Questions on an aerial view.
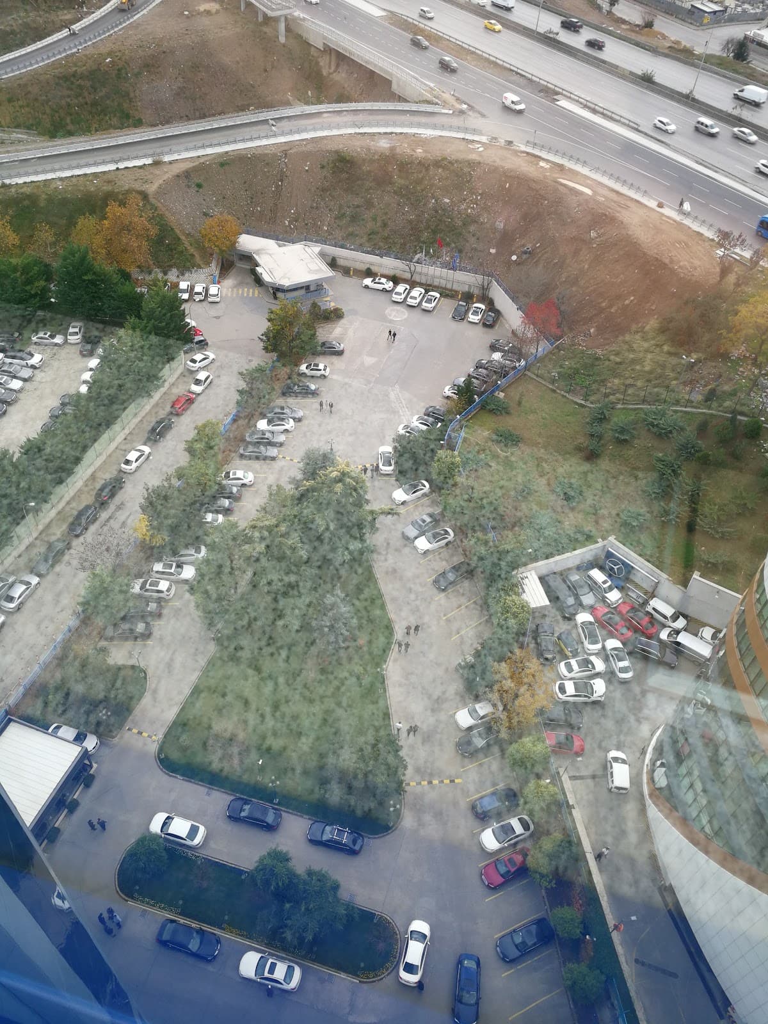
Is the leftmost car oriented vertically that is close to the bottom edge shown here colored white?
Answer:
Yes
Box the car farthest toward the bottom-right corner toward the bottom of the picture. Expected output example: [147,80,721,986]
[496,916,557,966]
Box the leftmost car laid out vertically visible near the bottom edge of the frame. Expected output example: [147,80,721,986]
[399,918,431,990]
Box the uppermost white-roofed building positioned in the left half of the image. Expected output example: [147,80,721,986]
[253,228,336,306]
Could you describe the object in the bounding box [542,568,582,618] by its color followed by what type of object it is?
gray van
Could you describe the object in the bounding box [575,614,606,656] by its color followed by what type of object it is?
white car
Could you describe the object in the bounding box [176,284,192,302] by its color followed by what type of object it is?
white car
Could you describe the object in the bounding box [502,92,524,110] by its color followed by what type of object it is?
white vehicle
